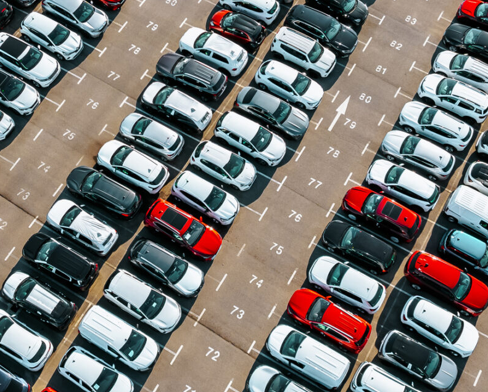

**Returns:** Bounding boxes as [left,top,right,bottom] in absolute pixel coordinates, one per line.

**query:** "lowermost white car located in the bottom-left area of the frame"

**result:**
[54,335,134,392]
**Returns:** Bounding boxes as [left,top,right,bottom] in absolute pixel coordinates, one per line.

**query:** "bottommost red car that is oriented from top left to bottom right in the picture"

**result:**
[286,287,371,349]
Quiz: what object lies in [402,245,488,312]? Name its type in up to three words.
car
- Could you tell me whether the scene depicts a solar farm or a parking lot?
parking lot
